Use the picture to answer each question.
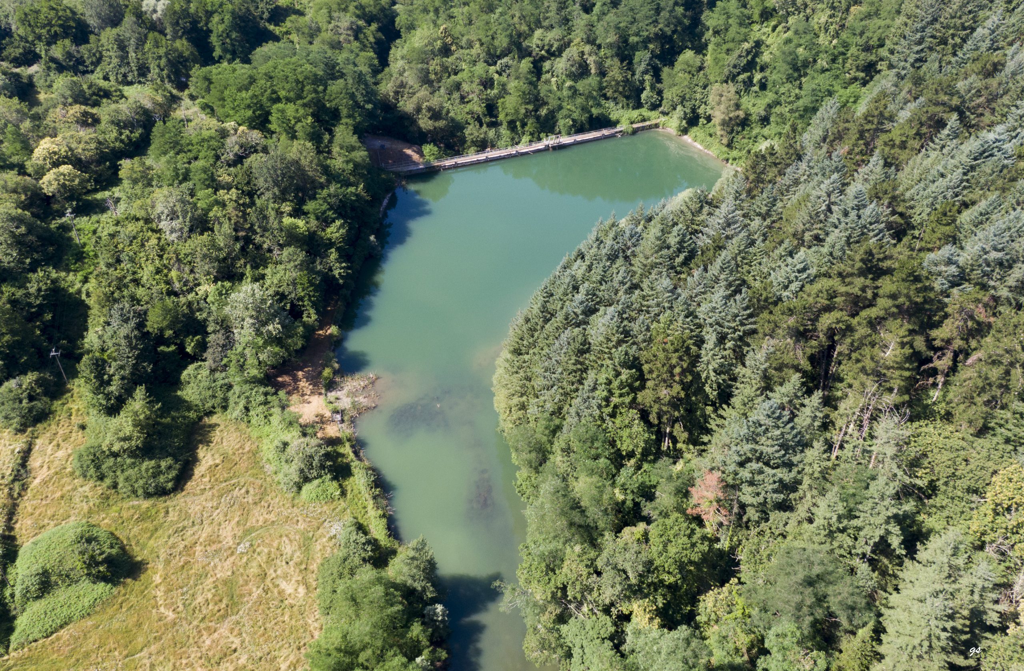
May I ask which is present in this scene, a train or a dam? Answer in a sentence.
It is a dam that can be seen here.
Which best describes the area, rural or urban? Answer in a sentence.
From above, the setting appears rural.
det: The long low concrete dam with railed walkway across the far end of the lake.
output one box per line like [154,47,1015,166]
[379,119,661,175]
